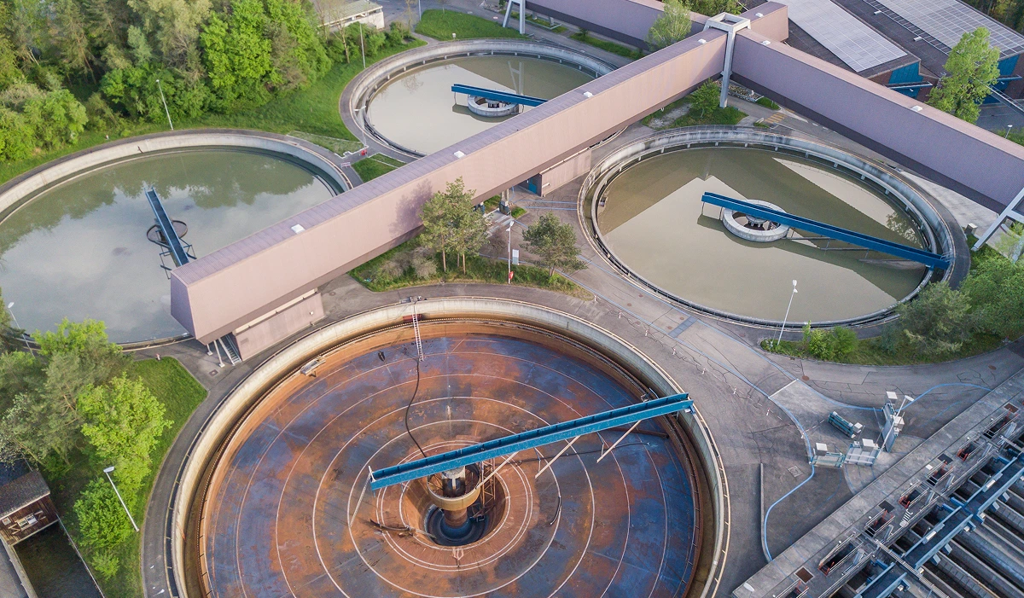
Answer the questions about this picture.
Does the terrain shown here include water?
Yes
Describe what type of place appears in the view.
industrial area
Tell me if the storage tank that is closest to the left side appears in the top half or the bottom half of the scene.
top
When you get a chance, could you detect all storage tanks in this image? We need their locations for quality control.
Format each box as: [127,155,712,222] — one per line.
[170,302,728,598]
[0,131,352,225]
[576,132,952,341]
[352,42,652,164]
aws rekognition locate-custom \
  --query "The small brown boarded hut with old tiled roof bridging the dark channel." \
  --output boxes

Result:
[0,473,62,557]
